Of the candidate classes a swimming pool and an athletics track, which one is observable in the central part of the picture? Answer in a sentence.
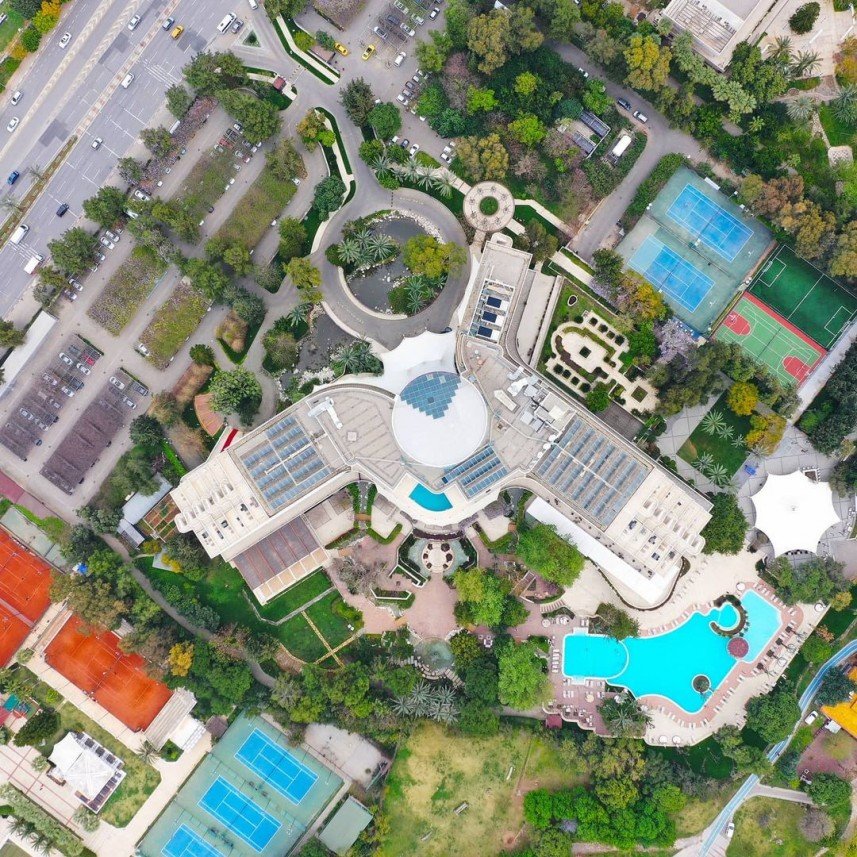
Visible in the central part of the picture is a swimming pool.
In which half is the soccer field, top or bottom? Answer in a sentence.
It is in the top half that the soccer field appears.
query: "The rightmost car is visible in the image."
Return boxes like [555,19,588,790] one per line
[806,711,819,726]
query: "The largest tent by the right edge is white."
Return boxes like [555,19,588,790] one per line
[746,470,840,557]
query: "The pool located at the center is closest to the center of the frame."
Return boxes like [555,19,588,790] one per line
[408,483,454,511]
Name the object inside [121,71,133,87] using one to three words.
vehicle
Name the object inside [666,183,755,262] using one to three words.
tennis court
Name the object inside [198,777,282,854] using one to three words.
tennis court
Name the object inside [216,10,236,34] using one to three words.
vehicle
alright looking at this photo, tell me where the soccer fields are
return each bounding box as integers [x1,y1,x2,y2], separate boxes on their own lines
[744,239,857,356]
